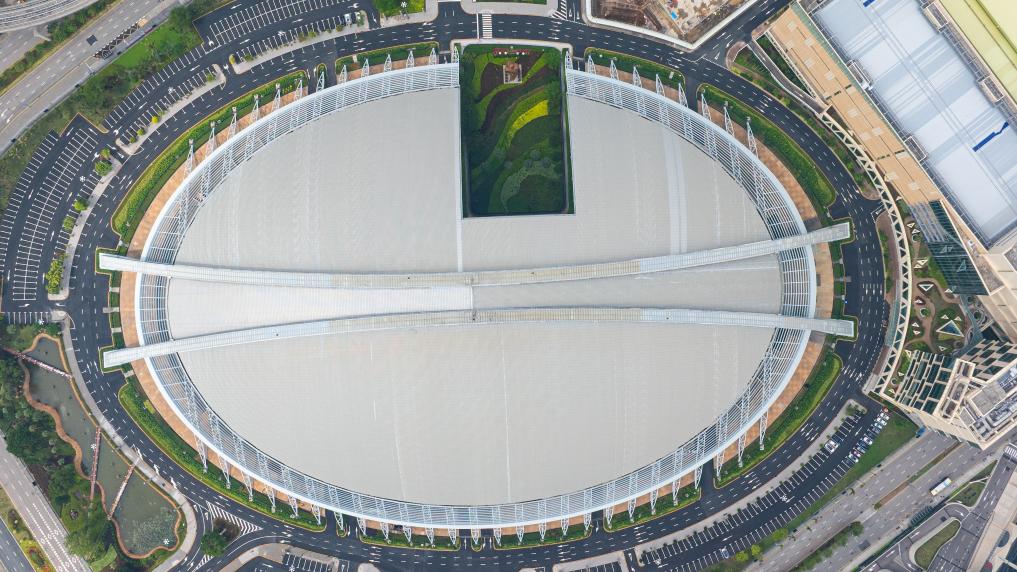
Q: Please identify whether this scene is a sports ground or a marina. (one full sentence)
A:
This looks like a sports ground.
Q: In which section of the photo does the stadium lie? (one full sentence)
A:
The stadium appears toward the center of the photo.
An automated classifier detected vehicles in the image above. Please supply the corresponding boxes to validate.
[825,442,835,453]
[352,12,358,23]
[856,445,868,454]
[829,439,839,450]
[852,449,864,459]
[877,417,889,427]
[345,13,352,25]
[881,412,892,421]
[849,454,860,463]
[833,434,843,445]
[721,547,729,559]
[859,441,871,451]
[874,421,885,431]
[844,458,855,468]
[871,426,882,435]
[864,436,875,446]
[932,477,956,496]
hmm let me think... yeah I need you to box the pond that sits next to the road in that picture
[24,338,179,555]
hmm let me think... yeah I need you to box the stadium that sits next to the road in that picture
[99,44,854,546]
